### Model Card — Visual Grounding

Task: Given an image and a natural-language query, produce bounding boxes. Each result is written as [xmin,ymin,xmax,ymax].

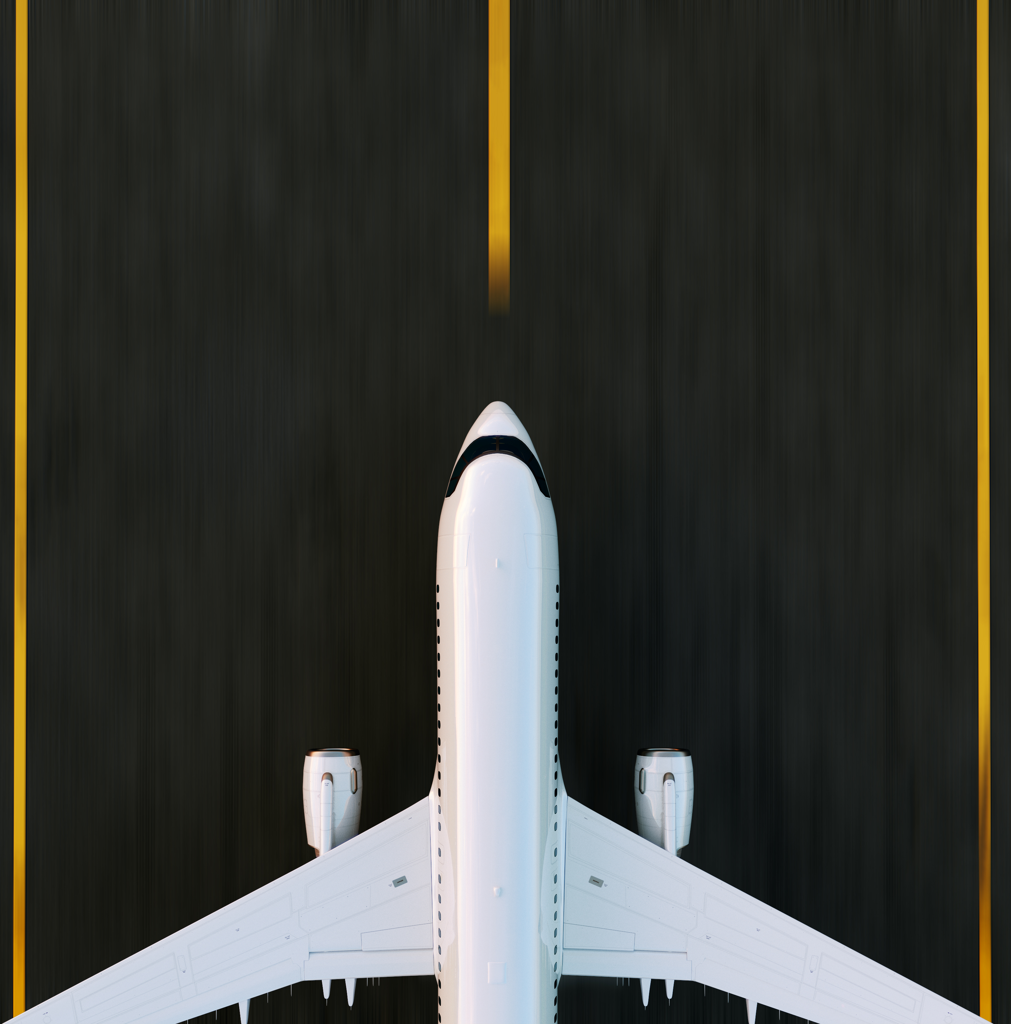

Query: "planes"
[1,401,994,1024]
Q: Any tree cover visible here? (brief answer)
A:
No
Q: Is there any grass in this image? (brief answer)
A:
No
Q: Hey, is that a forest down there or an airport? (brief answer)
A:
airport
